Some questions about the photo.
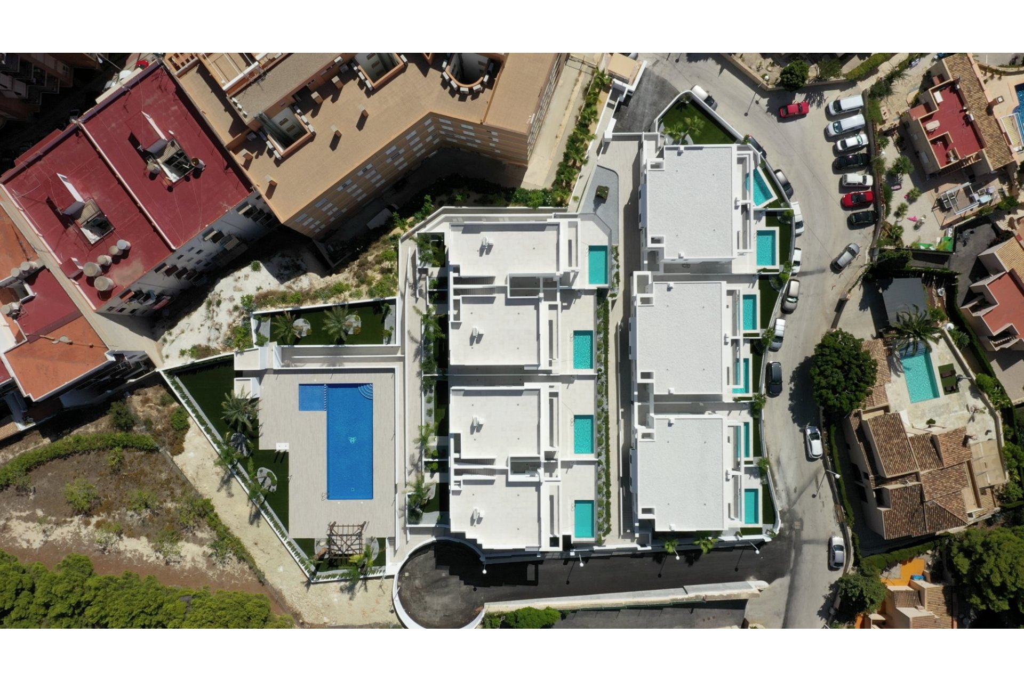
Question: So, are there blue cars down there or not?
No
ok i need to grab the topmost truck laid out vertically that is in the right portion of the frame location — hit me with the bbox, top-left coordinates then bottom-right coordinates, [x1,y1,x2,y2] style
[786,201,807,237]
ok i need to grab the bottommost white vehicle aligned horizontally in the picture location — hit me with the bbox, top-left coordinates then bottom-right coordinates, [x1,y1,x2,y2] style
[840,173,872,188]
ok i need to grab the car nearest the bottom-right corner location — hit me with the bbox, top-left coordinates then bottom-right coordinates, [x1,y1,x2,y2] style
[828,537,844,570]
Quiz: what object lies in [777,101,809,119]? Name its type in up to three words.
car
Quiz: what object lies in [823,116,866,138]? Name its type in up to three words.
vehicle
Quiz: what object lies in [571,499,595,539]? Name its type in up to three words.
swimming pool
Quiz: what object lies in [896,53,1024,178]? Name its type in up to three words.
house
